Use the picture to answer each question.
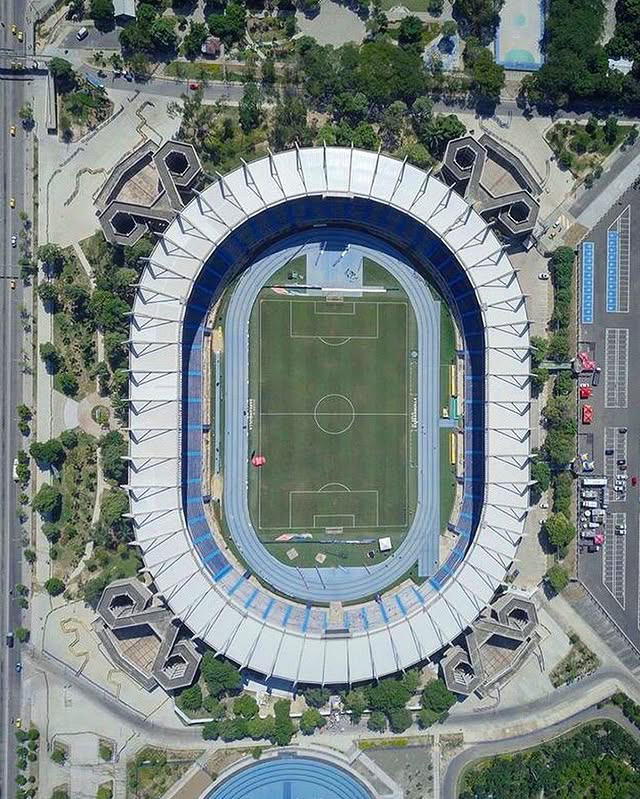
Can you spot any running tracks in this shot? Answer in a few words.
Yes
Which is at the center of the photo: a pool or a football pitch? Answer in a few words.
football pitch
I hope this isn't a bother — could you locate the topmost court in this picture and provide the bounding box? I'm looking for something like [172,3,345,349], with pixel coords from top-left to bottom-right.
[495,0,544,70]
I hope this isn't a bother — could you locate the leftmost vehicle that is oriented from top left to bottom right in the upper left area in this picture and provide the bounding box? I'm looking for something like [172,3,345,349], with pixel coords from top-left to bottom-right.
[84,70,104,89]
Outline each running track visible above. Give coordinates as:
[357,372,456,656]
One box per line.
[224,229,457,602]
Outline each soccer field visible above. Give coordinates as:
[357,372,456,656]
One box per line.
[258,298,409,530]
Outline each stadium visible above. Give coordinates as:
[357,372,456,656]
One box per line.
[121,140,537,691]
